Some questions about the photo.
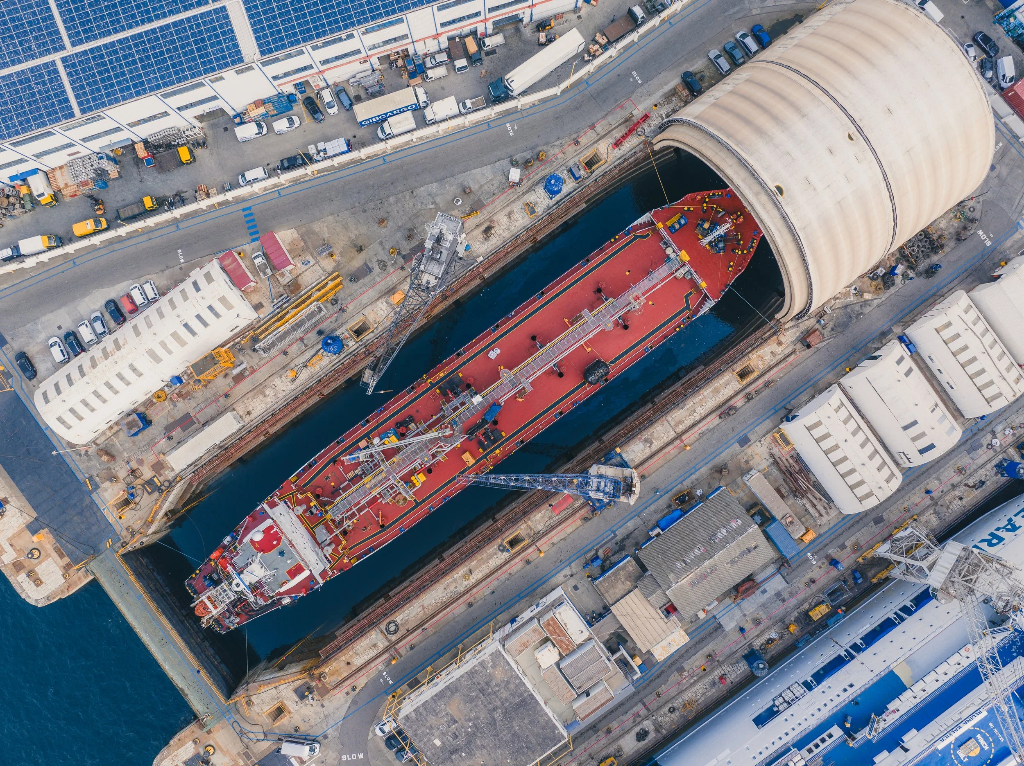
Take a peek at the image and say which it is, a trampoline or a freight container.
freight container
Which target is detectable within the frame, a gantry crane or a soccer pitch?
gantry crane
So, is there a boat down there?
Yes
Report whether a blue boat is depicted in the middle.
Yes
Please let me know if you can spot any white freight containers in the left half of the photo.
Yes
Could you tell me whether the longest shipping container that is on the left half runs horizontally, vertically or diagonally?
diagonally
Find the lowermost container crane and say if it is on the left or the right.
right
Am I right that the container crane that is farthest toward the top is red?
No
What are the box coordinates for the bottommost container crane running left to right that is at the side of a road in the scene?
[456,446,642,520]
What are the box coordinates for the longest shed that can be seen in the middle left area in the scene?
[29,258,257,444]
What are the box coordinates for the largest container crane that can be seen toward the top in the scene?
[360,210,487,398]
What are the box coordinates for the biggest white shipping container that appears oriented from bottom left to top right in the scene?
[166,411,247,471]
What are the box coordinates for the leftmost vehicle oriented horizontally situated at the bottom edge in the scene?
[281,733,322,754]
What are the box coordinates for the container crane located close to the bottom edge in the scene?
[853,513,1024,766]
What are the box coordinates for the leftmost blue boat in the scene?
[468,404,502,435]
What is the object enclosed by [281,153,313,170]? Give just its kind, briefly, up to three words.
car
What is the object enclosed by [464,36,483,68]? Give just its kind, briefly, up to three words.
vehicle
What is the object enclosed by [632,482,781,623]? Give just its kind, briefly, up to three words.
building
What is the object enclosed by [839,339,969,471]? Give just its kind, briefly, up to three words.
shed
